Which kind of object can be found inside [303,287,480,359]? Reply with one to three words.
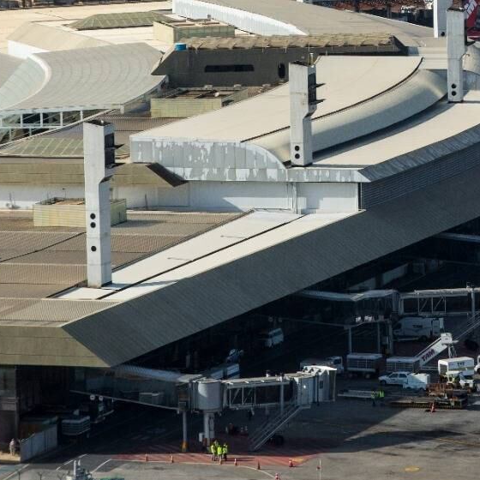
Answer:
jet bridge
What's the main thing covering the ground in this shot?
buildings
